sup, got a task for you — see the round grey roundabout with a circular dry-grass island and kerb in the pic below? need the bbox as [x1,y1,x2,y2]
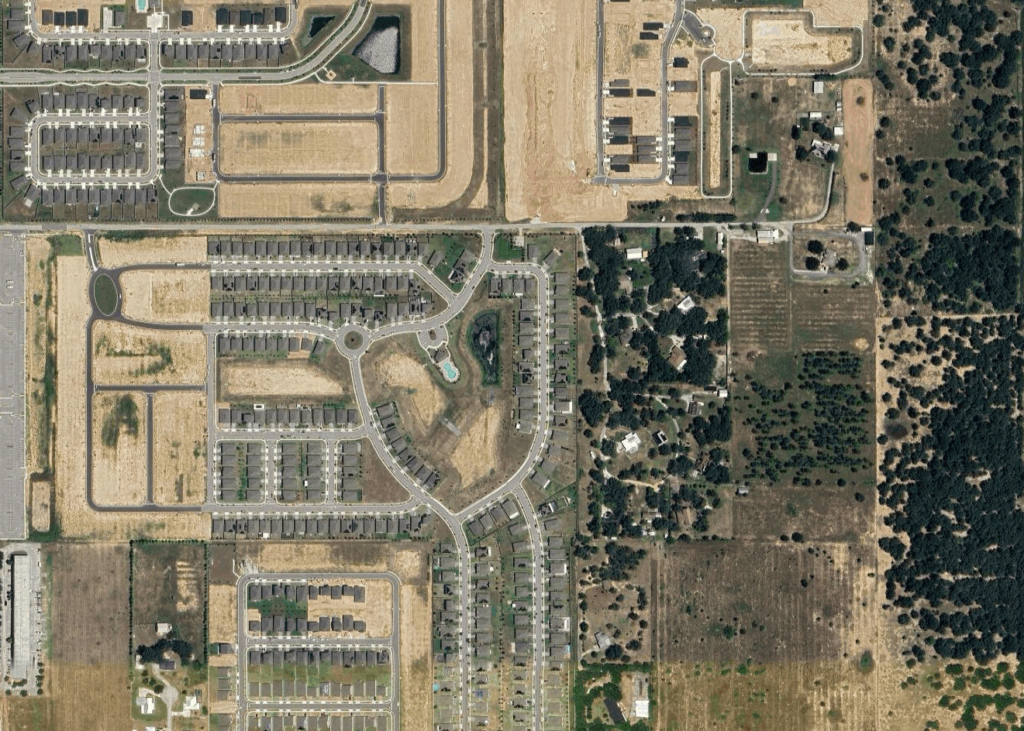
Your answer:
[338,324,369,355]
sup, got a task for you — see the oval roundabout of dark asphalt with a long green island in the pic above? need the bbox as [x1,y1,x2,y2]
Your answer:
[89,269,123,320]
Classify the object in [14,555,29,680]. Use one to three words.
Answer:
building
